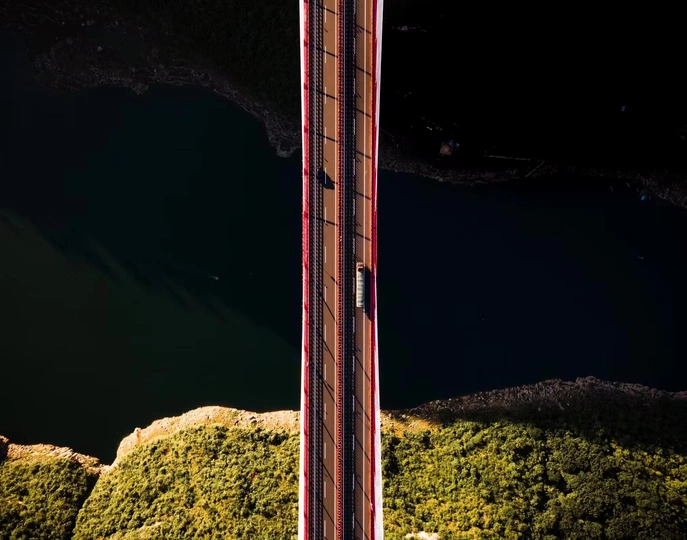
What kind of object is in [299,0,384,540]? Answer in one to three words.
bridge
